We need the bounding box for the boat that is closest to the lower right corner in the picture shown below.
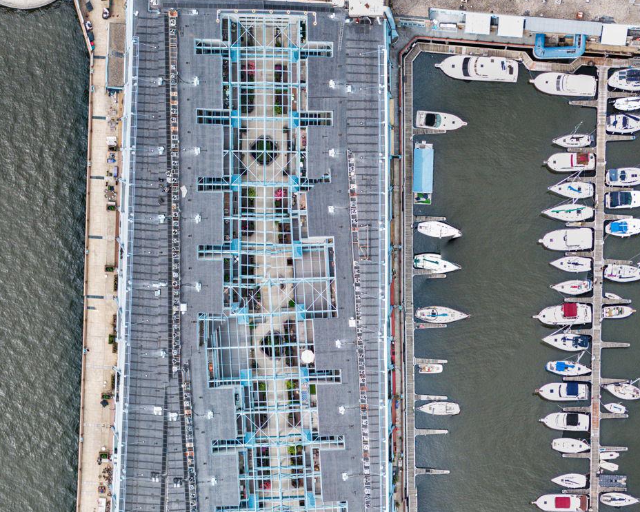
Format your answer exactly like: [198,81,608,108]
[602,492,640,508]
